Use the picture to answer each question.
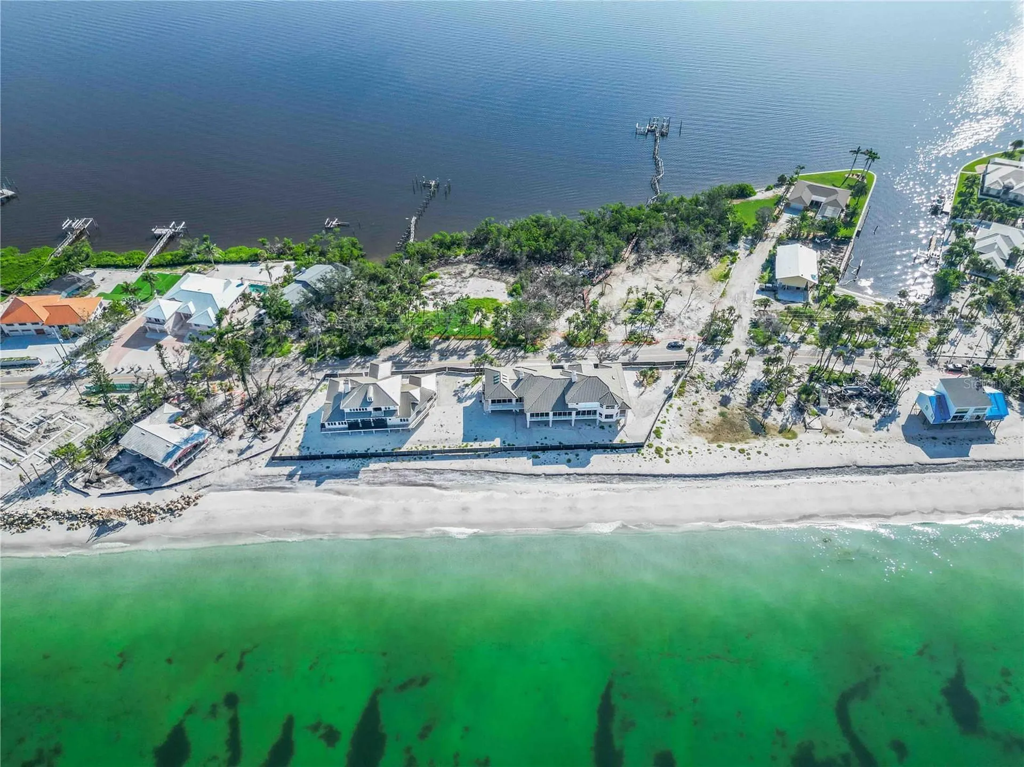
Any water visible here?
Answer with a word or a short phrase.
Yes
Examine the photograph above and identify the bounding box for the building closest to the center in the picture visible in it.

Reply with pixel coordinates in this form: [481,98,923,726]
[485,364,631,433]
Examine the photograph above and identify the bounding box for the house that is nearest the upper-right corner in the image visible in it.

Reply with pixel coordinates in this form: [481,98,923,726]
[982,159,1024,200]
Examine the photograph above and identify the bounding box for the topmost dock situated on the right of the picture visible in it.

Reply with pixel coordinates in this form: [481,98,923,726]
[636,117,670,195]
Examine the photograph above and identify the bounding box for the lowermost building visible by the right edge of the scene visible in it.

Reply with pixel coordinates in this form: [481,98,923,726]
[912,377,1008,434]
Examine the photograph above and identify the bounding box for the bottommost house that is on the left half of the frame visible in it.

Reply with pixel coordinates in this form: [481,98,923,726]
[119,404,225,478]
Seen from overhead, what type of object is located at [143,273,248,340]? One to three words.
house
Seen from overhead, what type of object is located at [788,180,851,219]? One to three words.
house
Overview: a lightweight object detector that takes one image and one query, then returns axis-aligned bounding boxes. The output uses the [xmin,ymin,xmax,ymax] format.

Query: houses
[912,377,1008,434]
[143,273,248,340]
[982,159,1024,200]
[322,362,440,443]
[283,263,349,316]
[119,404,225,478]
[973,226,1024,274]
[770,244,818,295]
[485,364,631,433]
[0,295,104,339]
[788,180,851,219]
